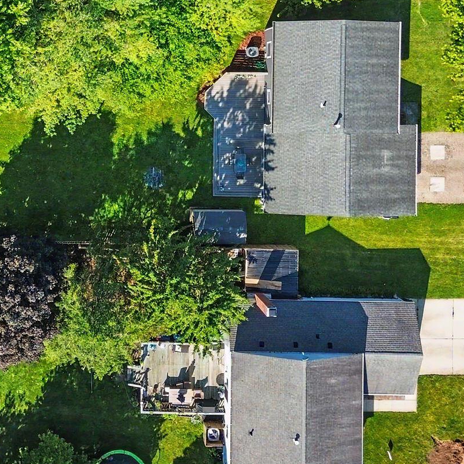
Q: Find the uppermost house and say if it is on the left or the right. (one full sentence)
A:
It is on the right.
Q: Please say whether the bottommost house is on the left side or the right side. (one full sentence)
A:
You can find the bottommost house on the right side of the picture.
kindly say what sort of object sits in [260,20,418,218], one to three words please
house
